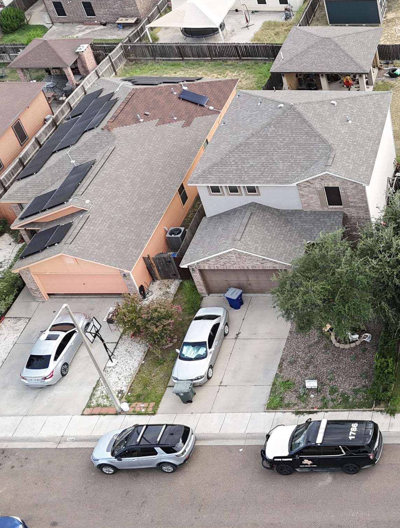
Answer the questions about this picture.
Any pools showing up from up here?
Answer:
No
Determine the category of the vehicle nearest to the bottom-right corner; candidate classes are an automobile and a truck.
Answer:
automobile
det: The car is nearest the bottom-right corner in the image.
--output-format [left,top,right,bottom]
[258,416,384,475]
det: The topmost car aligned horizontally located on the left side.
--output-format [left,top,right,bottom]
[86,421,197,475]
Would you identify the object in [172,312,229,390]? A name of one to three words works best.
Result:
car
